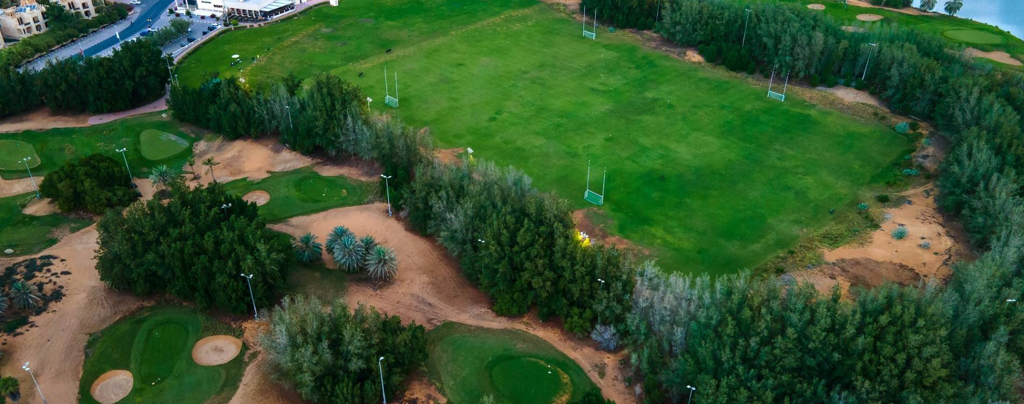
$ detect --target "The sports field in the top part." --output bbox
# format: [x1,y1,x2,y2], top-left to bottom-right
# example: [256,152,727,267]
[176,0,916,302]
